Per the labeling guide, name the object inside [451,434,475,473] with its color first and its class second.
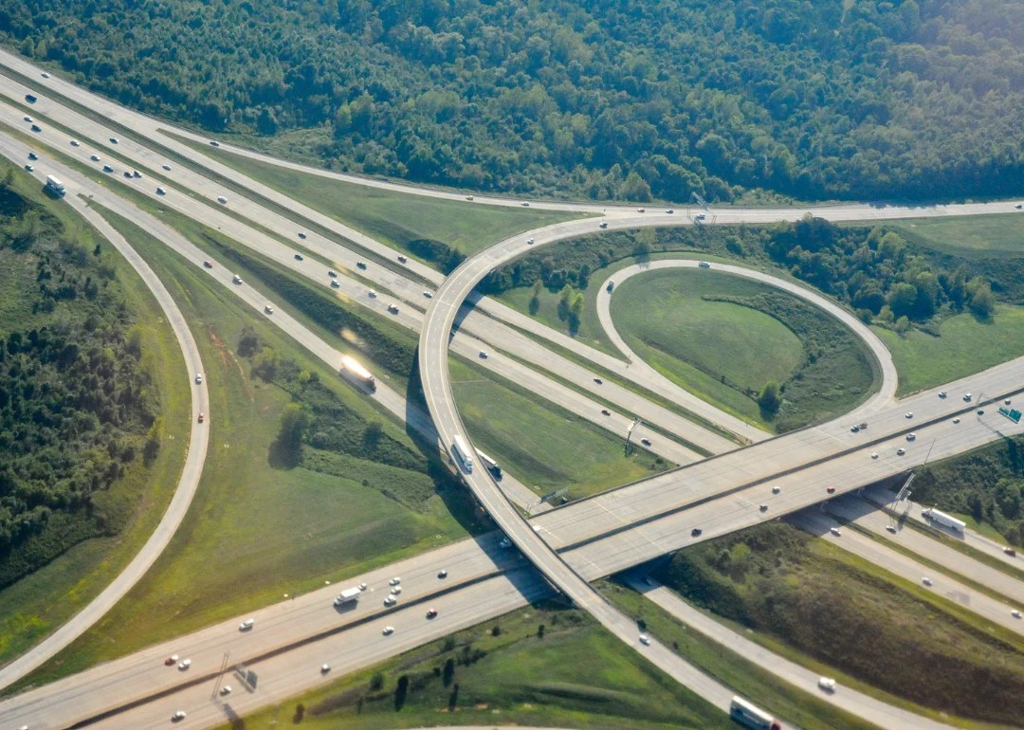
white truck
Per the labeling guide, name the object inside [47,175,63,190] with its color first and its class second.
white vehicle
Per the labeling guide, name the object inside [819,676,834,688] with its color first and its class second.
white vehicle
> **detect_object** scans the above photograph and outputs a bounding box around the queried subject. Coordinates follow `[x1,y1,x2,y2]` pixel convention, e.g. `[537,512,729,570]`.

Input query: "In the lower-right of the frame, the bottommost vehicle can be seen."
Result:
[727,694,780,730]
